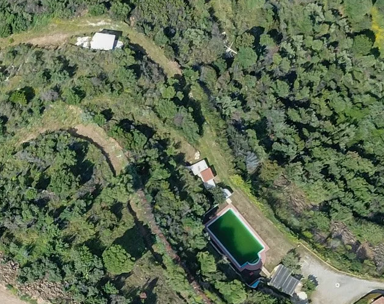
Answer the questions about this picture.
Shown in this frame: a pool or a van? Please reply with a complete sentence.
Of the two, only a pool appears.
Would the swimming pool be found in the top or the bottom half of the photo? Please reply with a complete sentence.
Seen from above, the swimming pool lies in the bottom half of the view.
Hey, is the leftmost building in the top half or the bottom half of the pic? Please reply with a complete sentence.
The leftmost building is in the top half of the image.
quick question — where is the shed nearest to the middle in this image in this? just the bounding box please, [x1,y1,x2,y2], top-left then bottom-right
[188,161,215,185]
